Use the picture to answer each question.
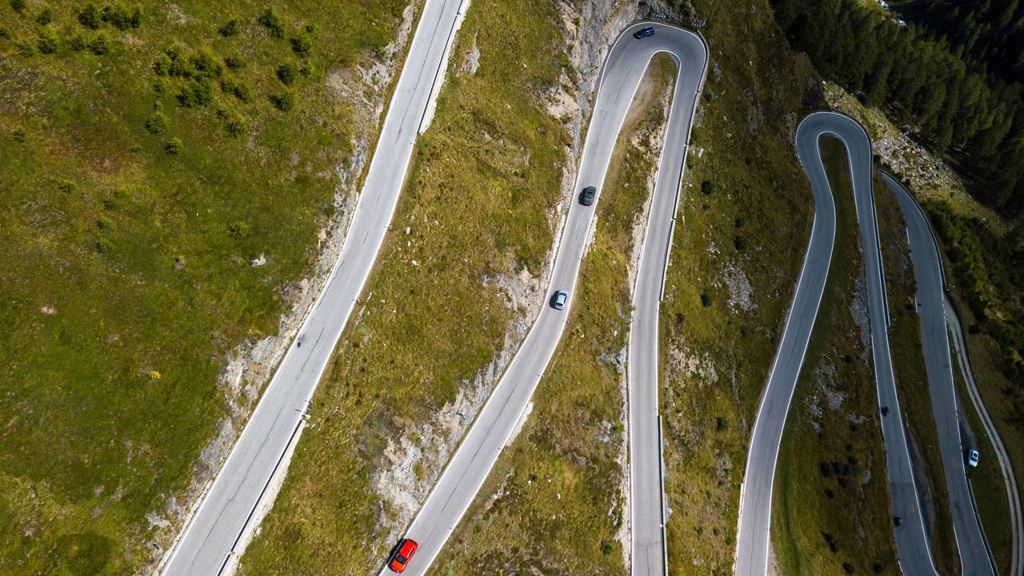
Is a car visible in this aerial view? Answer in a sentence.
Yes, the photo shows a car.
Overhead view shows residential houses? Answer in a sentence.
No, I can't see a single residential house in this photo.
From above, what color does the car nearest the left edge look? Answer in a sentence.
The color of the car nearest the left edge is red.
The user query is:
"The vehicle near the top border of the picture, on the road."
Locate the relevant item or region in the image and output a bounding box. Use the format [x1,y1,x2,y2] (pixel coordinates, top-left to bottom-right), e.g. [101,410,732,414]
[633,25,654,38]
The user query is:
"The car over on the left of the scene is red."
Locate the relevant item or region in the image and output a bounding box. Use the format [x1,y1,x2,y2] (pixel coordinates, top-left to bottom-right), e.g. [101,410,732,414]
[389,538,415,571]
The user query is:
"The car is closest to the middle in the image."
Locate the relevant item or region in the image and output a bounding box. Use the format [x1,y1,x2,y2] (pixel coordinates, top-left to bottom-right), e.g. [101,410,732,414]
[552,290,567,310]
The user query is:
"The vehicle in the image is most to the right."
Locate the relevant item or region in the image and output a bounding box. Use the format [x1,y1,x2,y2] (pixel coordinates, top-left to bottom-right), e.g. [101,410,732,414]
[966,448,979,469]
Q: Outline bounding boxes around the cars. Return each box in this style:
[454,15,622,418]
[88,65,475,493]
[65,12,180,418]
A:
[389,538,415,571]
[633,25,654,38]
[966,448,979,469]
[552,290,567,310]
[581,187,594,205]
